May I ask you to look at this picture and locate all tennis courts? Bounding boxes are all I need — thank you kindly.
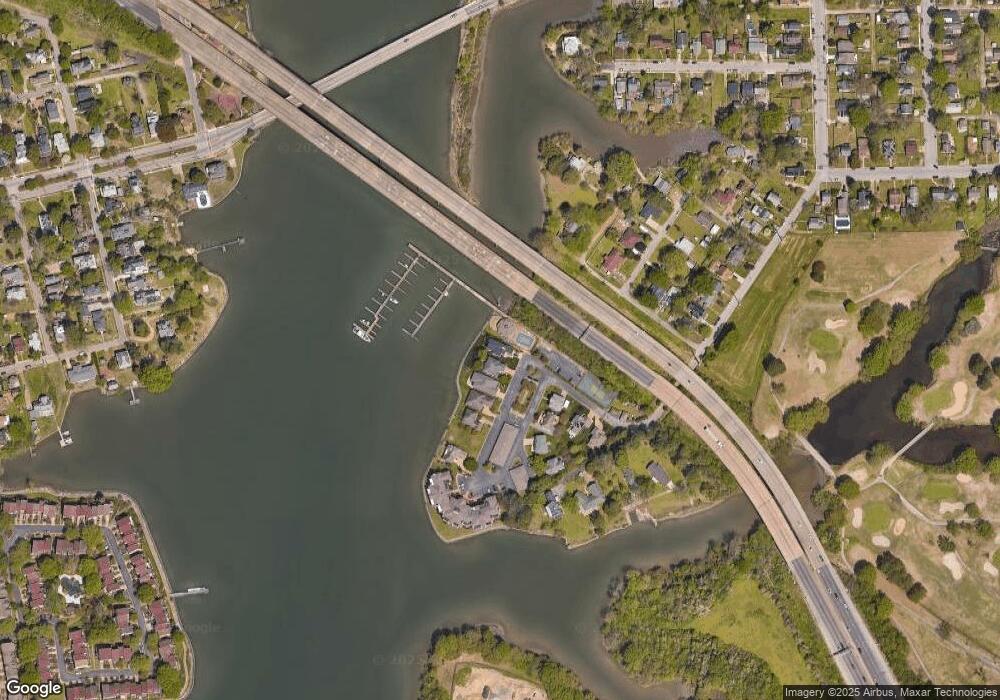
[578,374,618,409]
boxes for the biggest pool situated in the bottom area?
[59,574,82,604]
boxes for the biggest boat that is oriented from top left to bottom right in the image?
[353,324,369,340]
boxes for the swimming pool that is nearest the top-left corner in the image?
[196,191,209,208]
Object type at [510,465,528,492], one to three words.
building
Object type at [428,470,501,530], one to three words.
building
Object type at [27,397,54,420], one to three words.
house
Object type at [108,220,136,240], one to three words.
house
